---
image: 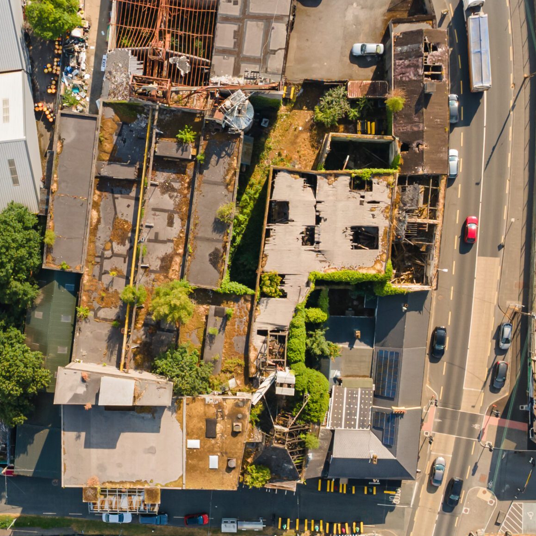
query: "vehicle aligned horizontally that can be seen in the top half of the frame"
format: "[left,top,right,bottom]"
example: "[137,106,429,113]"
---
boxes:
[352,42,383,57]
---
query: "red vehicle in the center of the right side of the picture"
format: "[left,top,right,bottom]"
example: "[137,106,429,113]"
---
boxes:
[463,215,479,243]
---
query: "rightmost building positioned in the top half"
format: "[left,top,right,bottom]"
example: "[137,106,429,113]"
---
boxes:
[388,30,449,175]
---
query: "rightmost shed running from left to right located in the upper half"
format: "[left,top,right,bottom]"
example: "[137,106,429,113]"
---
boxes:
[347,81,387,98]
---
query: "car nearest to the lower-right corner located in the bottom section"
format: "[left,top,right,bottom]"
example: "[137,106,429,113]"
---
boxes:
[447,477,463,507]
